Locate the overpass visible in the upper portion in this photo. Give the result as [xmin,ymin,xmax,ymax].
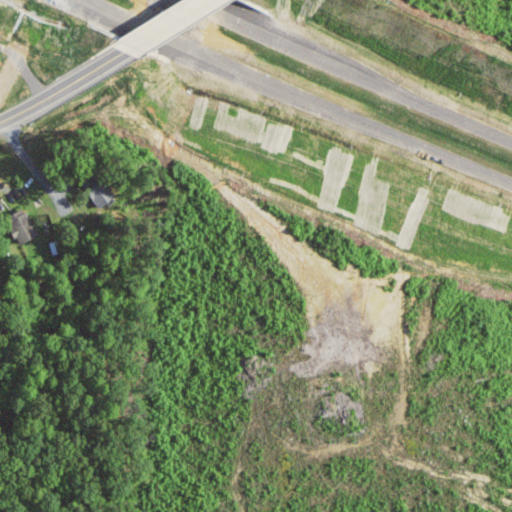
[83,0,273,66]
